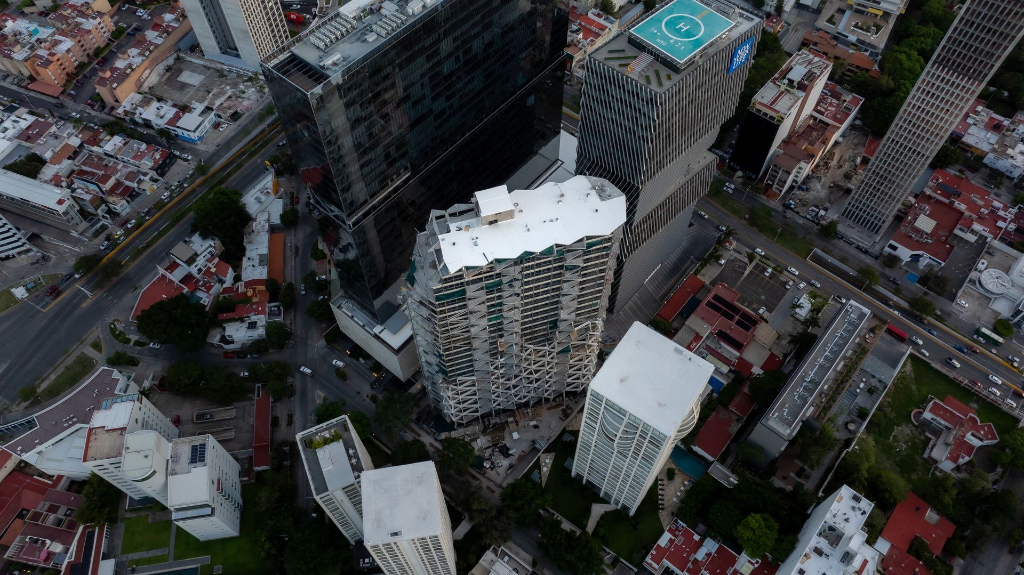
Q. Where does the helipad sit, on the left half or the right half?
right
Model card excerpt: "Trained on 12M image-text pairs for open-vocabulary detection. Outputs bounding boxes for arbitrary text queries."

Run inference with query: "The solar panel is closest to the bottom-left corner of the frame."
[71,529,97,575]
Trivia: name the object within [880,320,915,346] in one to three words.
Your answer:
bus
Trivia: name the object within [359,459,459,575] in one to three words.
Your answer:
building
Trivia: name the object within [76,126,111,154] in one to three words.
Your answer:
house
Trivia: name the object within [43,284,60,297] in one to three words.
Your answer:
vehicle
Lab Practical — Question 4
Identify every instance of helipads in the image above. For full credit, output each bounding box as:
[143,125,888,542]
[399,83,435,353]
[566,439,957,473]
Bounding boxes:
[616,0,746,77]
